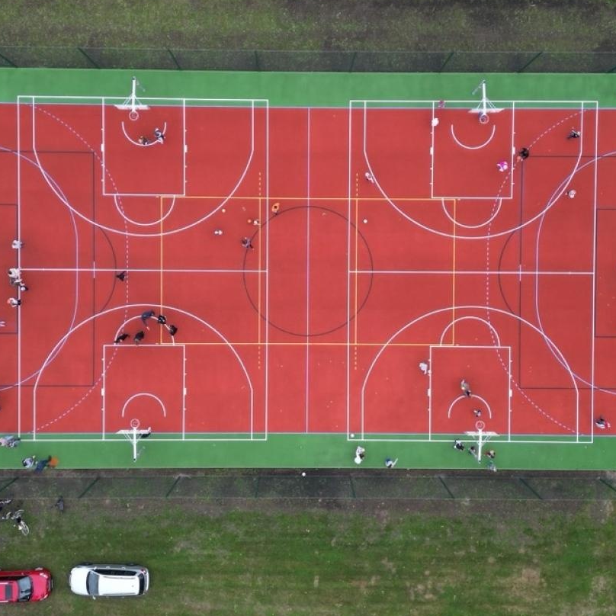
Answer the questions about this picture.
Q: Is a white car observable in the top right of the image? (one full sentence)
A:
No, there's no white car to be seen in the top right of the image.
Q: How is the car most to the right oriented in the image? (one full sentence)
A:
The car most to the right runs from left to right in the image.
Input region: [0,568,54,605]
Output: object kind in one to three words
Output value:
car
